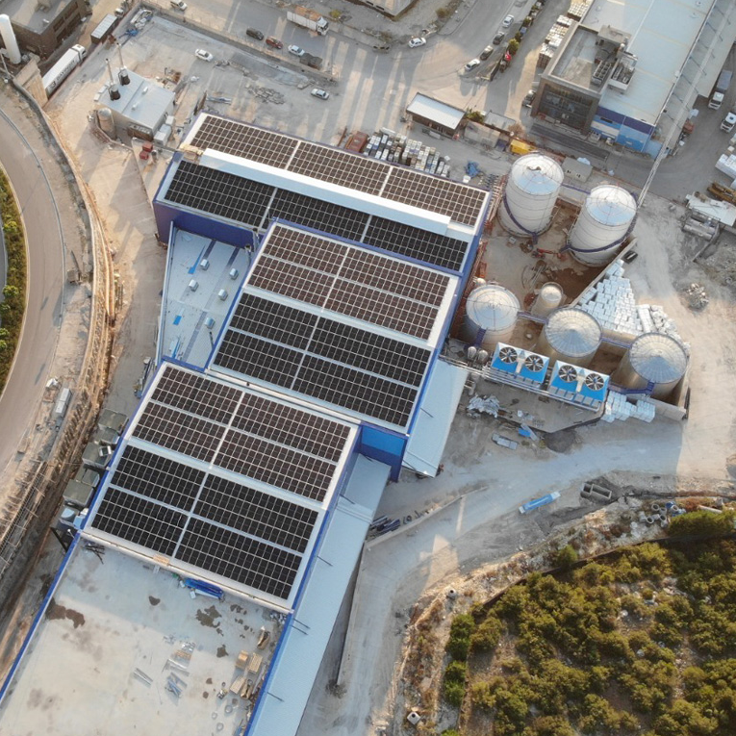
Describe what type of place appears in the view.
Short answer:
industrial area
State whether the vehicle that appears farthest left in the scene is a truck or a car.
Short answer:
truck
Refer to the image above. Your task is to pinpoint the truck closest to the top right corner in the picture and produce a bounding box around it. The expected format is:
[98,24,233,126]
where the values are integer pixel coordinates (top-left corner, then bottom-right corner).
[708,66,735,113]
